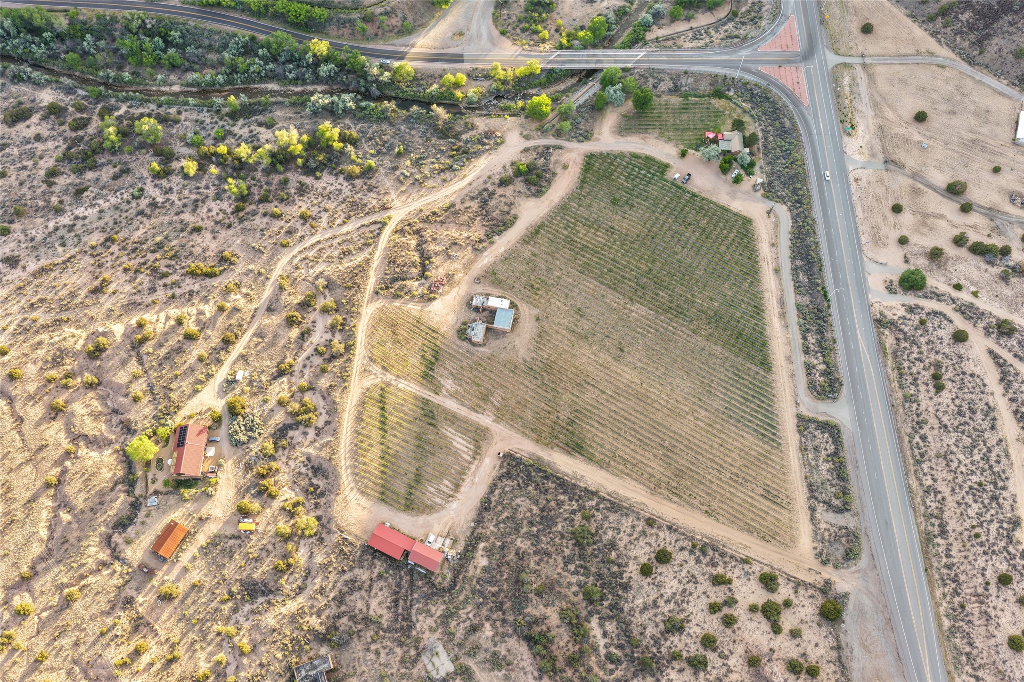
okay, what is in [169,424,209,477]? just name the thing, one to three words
house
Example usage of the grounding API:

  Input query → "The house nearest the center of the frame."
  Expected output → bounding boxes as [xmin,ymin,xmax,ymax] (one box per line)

[466,295,514,344]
